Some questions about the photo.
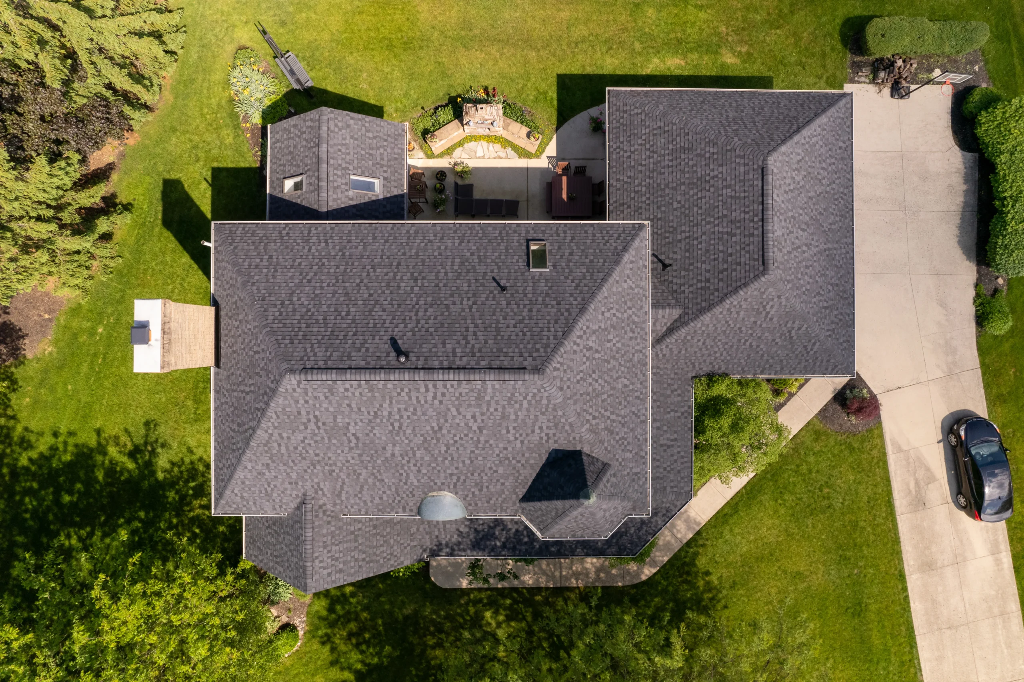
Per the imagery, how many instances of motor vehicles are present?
one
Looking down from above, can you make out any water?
No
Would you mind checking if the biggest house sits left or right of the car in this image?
left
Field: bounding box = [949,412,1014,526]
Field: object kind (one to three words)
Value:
car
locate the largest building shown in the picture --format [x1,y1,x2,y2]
[129,91,854,595]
